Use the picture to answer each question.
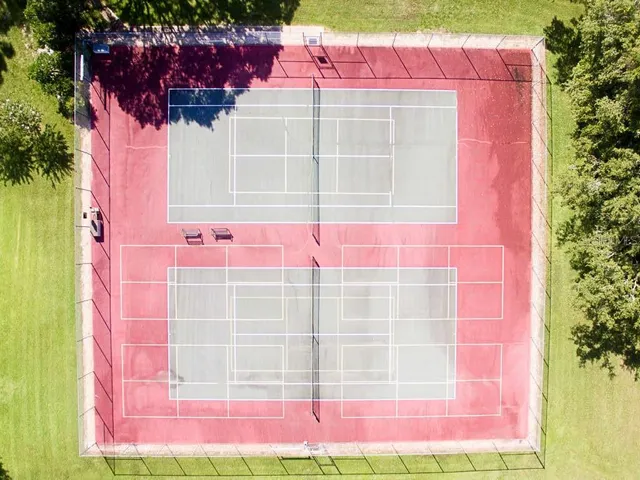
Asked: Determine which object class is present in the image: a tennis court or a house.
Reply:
tennis court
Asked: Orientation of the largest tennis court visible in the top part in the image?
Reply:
from left to right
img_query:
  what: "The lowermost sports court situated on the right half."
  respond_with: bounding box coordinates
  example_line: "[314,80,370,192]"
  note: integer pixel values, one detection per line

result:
[341,344,502,417]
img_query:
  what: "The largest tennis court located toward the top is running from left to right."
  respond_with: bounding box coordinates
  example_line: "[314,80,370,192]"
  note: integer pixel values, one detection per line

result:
[168,89,457,224]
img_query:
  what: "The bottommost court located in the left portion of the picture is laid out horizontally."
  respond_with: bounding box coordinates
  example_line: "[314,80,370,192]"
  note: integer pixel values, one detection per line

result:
[122,344,284,418]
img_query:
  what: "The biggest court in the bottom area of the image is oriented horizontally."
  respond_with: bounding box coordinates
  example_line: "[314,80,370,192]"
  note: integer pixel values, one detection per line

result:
[169,268,456,400]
